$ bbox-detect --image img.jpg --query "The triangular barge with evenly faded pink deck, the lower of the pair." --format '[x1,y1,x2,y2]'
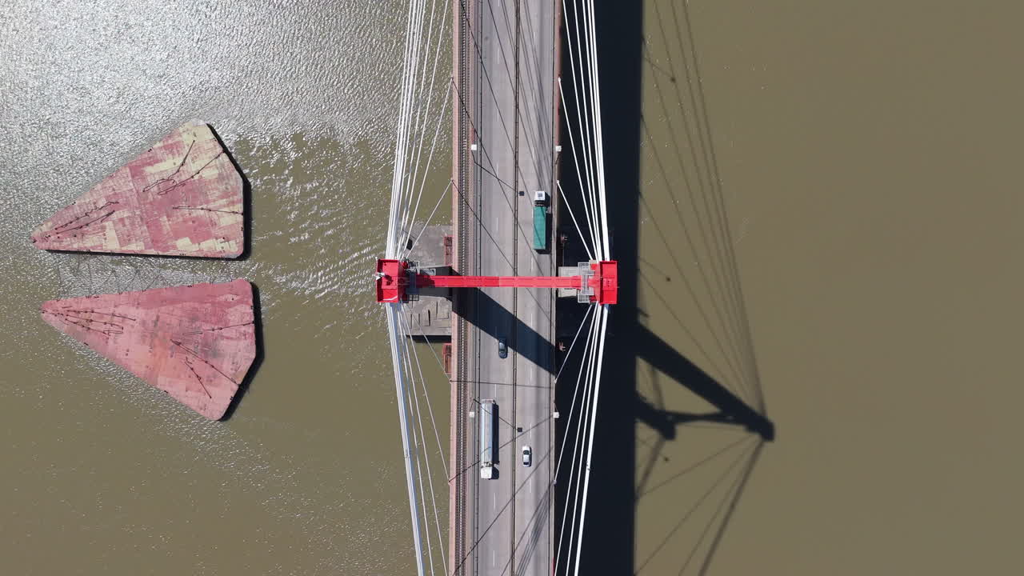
[39,279,258,420]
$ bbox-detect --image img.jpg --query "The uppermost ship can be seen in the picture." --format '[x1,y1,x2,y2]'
[31,119,246,258]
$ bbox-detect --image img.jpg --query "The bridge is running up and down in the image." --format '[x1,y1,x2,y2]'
[371,0,620,576]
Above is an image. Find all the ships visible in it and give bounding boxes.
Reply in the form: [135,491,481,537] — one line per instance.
[31,119,246,258]
[39,279,258,420]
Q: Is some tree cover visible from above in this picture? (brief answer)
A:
No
